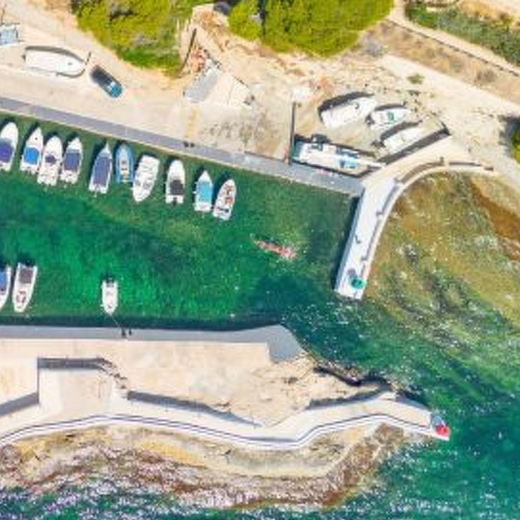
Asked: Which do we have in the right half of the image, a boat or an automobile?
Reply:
boat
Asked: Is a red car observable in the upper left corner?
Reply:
No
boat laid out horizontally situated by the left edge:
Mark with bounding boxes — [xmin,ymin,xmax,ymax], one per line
[25,48,84,76]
